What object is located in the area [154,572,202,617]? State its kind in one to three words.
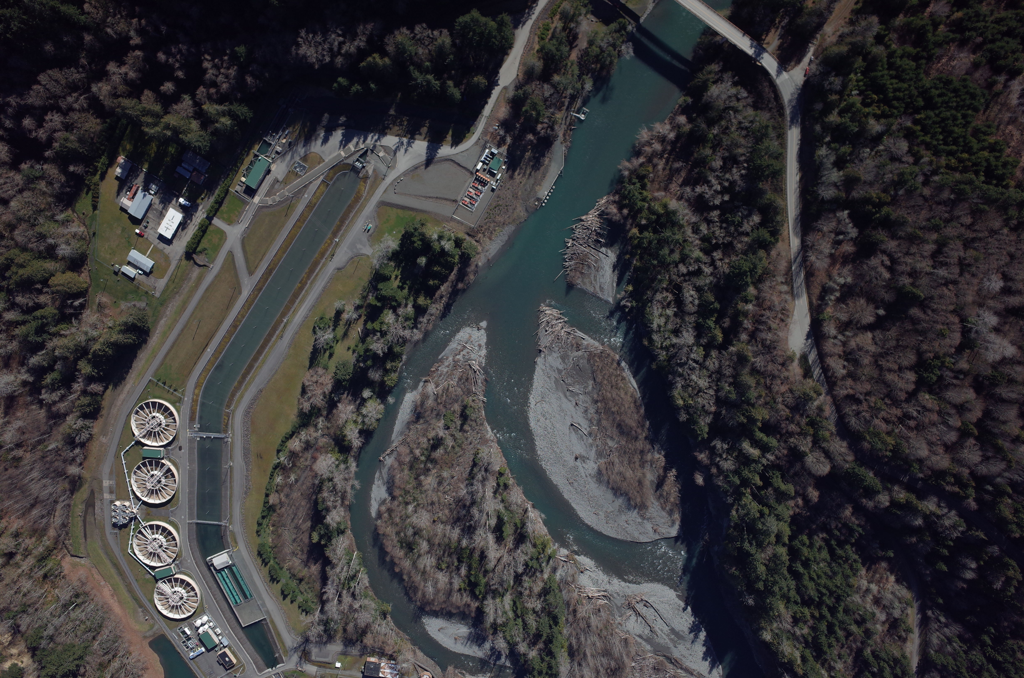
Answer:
storage tank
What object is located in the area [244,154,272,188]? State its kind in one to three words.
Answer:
house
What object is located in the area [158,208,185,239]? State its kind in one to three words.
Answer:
building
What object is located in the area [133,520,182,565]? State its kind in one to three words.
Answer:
storage tank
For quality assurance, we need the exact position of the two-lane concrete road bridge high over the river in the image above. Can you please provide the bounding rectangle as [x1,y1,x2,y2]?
[670,0,774,66]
